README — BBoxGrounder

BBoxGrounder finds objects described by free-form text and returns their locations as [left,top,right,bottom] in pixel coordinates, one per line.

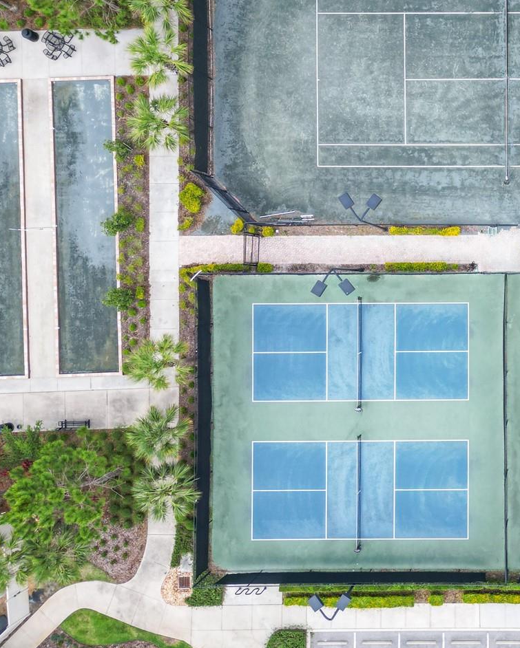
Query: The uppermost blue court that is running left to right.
[251,302,469,402]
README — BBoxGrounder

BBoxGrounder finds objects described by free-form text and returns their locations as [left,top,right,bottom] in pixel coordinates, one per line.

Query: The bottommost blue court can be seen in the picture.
[251,441,469,541]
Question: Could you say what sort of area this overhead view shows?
sports ground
